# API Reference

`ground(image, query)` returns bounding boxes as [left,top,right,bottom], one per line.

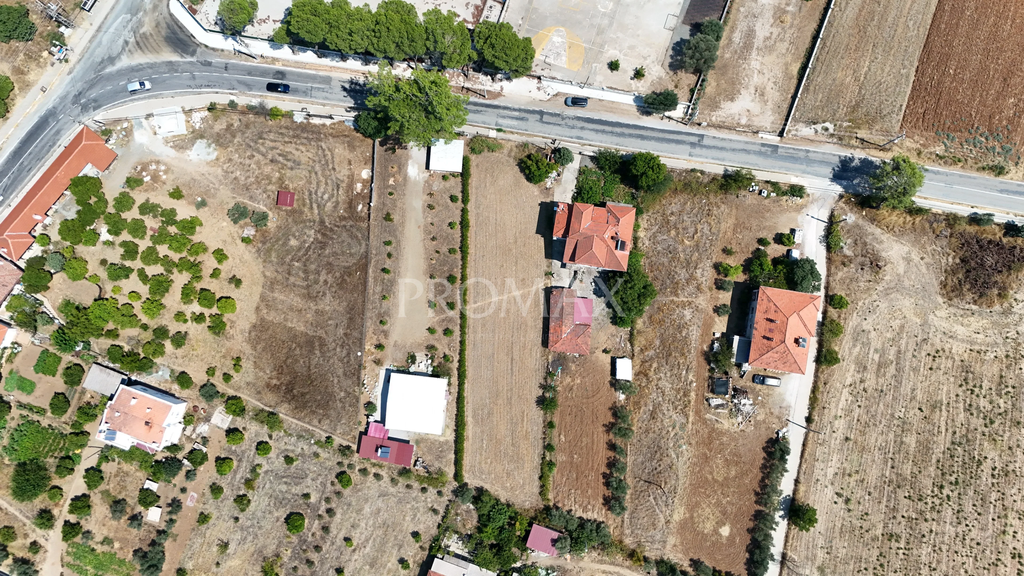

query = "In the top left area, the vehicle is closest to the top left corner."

[122,78,151,93]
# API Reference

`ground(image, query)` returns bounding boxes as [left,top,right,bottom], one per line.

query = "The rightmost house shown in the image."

[745,286,822,375]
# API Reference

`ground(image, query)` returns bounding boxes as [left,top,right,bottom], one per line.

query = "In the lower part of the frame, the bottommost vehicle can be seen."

[753,374,782,387]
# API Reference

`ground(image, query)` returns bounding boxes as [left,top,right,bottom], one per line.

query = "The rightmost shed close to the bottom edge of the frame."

[526,521,562,556]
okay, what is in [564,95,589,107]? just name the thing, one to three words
vehicle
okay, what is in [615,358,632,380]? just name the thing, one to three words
shed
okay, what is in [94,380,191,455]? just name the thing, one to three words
house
